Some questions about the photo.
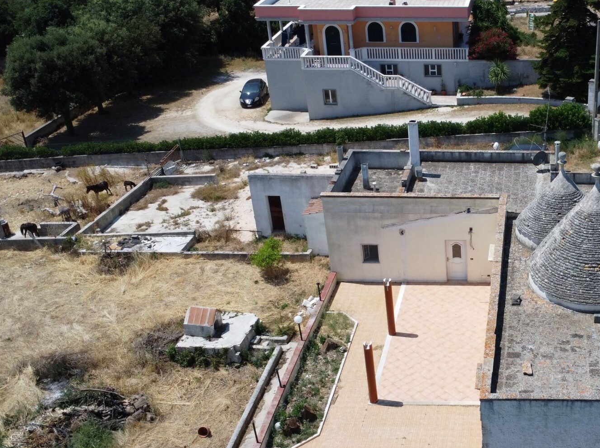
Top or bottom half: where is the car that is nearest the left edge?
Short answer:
top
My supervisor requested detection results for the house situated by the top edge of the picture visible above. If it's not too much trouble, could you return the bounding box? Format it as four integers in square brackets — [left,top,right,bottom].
[254,0,476,119]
